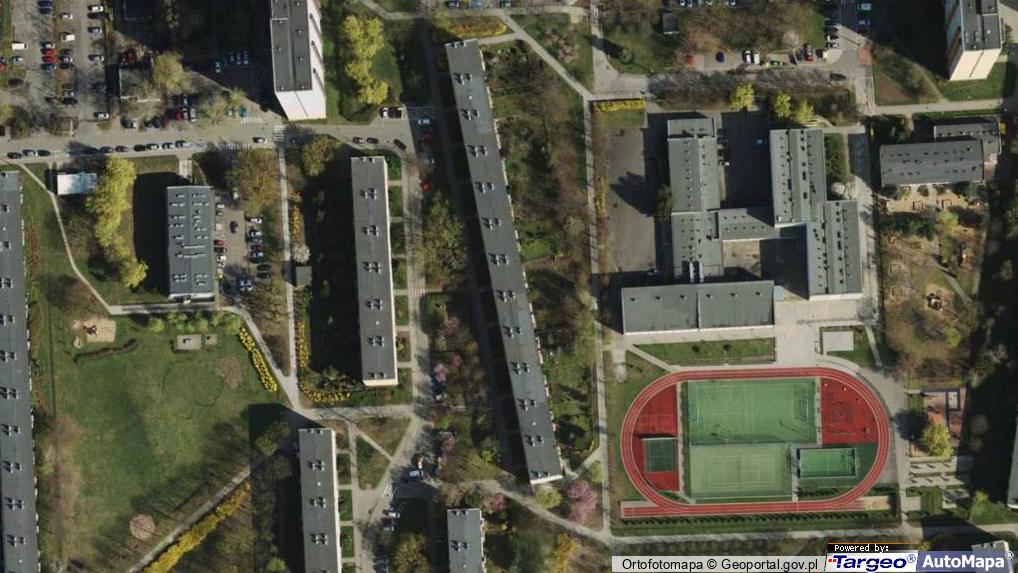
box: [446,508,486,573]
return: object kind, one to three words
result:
building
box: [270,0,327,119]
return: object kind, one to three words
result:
building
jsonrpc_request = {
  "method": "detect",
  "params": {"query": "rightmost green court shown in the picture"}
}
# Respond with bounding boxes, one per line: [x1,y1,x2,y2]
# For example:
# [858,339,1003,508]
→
[800,447,859,478]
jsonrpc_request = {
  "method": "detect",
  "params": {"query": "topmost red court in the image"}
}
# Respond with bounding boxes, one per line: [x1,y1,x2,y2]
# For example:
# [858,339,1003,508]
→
[821,379,877,444]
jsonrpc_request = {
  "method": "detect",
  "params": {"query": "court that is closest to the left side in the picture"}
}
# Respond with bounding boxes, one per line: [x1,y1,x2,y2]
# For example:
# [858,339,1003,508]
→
[644,439,676,472]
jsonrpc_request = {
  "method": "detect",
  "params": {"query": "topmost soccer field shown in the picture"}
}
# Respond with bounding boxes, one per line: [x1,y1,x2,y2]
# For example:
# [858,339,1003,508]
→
[688,379,816,445]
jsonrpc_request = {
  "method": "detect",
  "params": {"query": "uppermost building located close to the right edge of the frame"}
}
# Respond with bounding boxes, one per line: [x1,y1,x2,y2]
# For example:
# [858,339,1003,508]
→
[946,0,1001,86]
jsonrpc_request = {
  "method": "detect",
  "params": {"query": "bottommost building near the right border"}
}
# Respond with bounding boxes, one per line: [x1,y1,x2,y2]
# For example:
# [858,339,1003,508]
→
[966,542,1008,573]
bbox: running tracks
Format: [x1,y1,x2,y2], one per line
[620,368,889,521]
